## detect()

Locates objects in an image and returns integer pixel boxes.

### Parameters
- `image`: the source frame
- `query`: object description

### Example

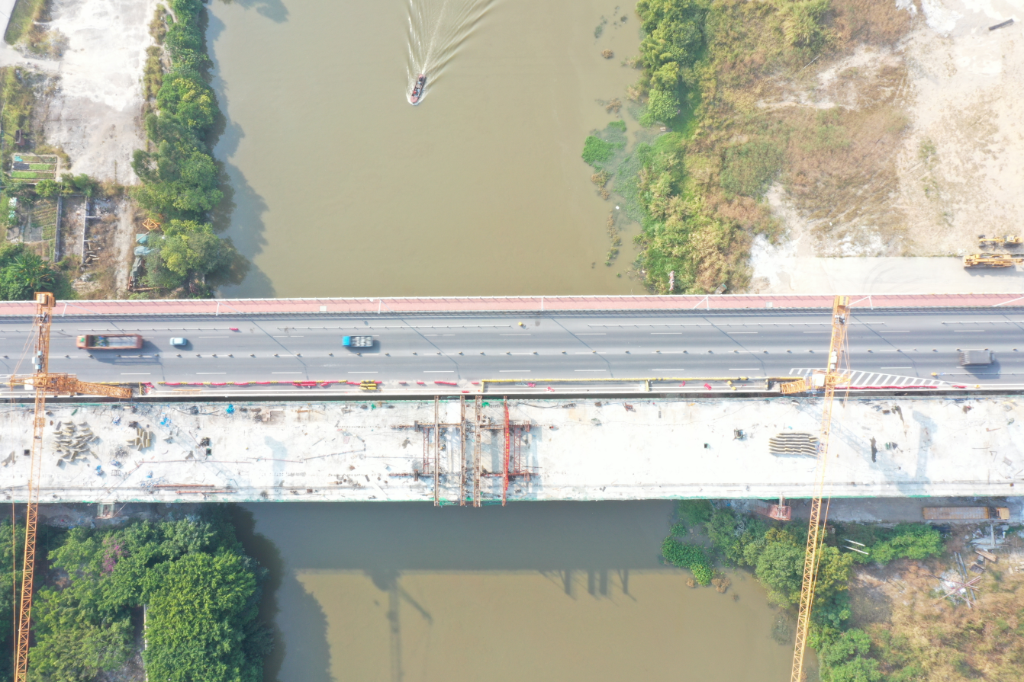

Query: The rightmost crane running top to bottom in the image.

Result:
[749,294,854,682]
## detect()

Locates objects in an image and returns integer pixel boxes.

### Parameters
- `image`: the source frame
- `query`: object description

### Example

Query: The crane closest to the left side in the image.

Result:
[5,291,172,682]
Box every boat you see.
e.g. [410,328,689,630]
[412,73,424,102]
